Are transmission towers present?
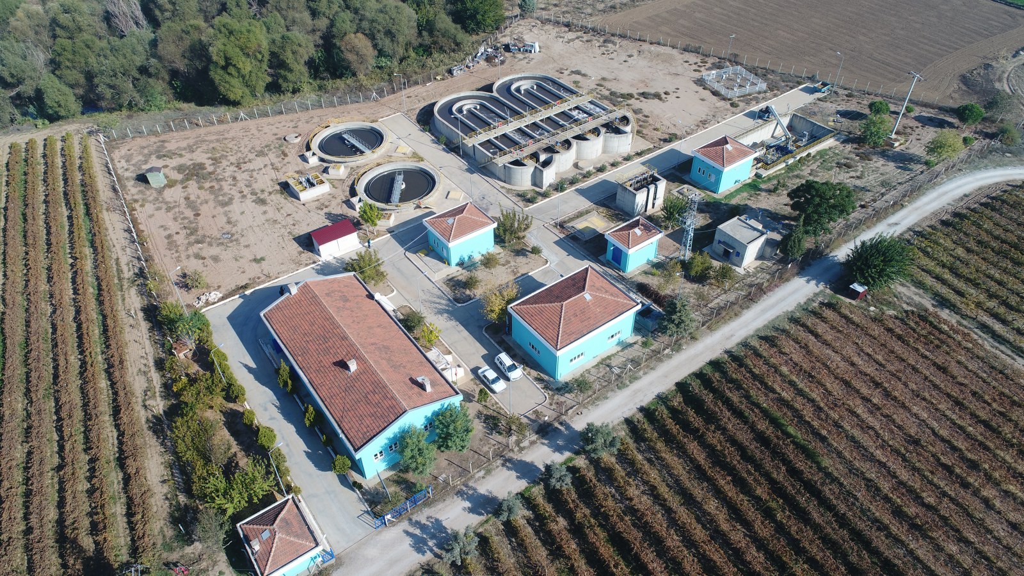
Yes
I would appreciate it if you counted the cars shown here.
2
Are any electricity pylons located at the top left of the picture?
No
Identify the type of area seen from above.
industrial area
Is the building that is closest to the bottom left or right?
left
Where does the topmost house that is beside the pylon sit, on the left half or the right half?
right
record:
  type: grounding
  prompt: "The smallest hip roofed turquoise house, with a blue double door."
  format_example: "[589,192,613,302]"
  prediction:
[602,216,667,275]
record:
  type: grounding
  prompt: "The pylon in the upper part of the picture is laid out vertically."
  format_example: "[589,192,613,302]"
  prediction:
[680,193,712,261]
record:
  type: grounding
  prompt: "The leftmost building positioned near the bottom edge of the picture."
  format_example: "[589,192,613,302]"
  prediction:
[237,493,323,576]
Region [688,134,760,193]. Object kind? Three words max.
house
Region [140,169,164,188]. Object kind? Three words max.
shed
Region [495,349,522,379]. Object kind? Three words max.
car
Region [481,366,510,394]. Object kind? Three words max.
car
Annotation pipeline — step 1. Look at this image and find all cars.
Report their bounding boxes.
[495,349,522,379]
[481,366,510,394]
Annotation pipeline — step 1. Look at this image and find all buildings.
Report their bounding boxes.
[688,134,760,193]
[712,212,773,265]
[423,201,497,266]
[507,265,642,380]
[237,493,323,576]
[140,169,164,188]
[846,280,872,303]
[602,216,667,275]
[259,272,462,476]
[310,219,357,256]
